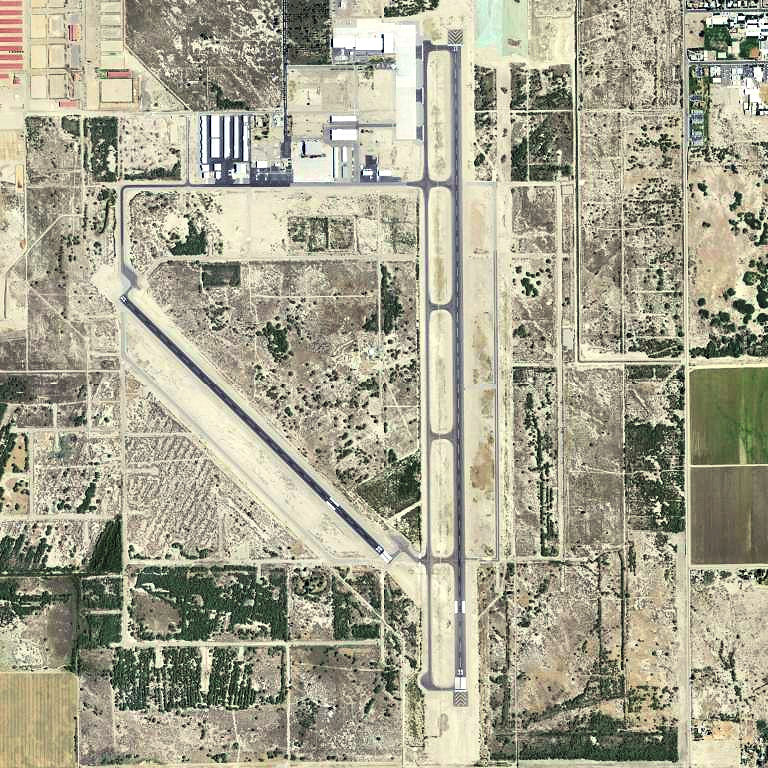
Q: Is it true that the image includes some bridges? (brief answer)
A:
No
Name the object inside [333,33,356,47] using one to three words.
hangar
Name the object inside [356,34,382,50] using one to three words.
hangar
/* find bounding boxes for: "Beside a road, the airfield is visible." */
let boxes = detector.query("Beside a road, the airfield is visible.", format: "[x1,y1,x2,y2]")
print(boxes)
[118,19,468,706]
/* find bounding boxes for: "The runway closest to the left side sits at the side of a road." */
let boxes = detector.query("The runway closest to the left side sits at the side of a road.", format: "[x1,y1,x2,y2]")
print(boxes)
[118,292,393,564]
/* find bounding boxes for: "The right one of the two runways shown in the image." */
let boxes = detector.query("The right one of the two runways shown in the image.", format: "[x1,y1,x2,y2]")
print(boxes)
[449,44,466,692]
